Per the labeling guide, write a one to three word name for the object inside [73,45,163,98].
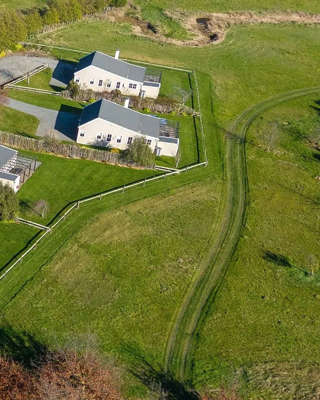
house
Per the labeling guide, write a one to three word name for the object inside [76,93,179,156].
house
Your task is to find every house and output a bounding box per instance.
[0,145,39,192]
[76,93,179,156]
[73,45,163,98]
